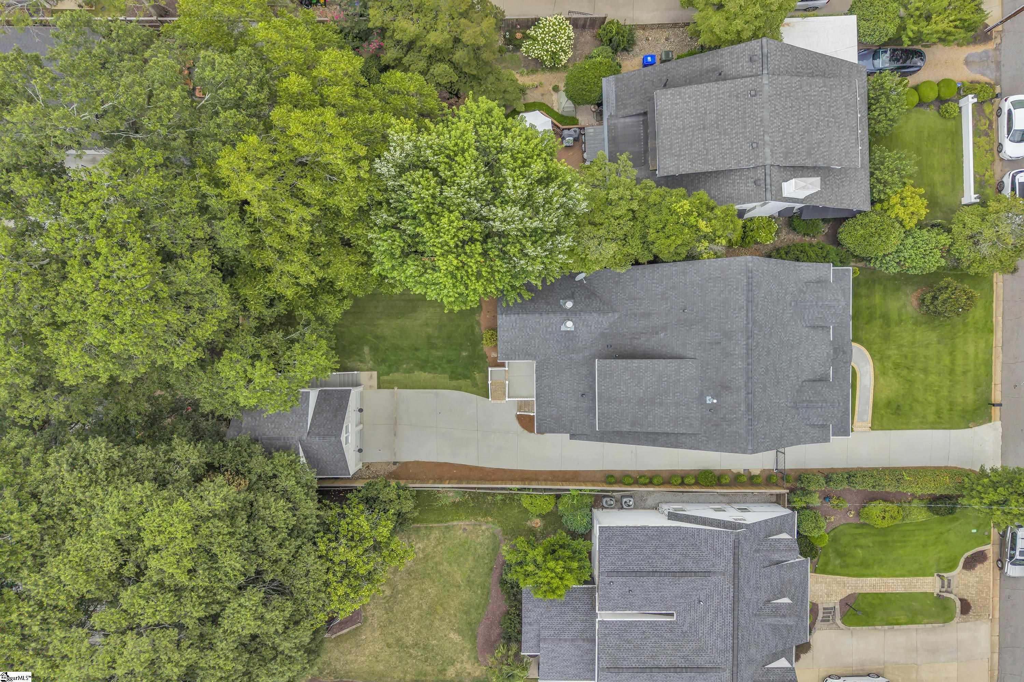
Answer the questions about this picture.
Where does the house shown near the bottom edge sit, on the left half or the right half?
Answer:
right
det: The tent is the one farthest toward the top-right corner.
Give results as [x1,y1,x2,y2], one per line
[558,90,578,118]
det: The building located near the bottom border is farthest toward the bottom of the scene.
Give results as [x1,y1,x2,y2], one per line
[521,504,811,682]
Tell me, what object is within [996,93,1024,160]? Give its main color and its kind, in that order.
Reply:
white car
